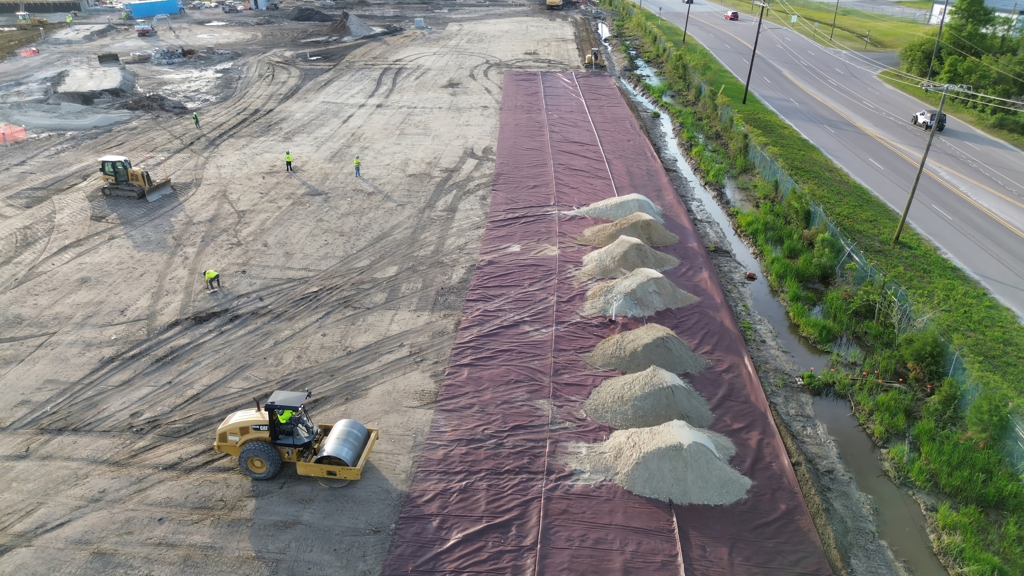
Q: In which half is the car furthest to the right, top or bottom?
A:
top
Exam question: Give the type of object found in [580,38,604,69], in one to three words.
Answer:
work vehicle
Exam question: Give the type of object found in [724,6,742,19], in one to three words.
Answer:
vehicle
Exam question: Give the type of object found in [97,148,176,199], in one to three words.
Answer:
work vehicle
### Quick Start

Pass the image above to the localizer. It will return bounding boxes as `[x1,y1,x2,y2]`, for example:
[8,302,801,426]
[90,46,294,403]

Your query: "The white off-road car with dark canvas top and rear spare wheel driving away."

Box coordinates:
[911,109,946,129]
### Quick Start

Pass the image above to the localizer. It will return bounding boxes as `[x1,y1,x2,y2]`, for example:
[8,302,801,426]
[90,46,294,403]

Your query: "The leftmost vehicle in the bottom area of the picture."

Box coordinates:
[212,384,377,487]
